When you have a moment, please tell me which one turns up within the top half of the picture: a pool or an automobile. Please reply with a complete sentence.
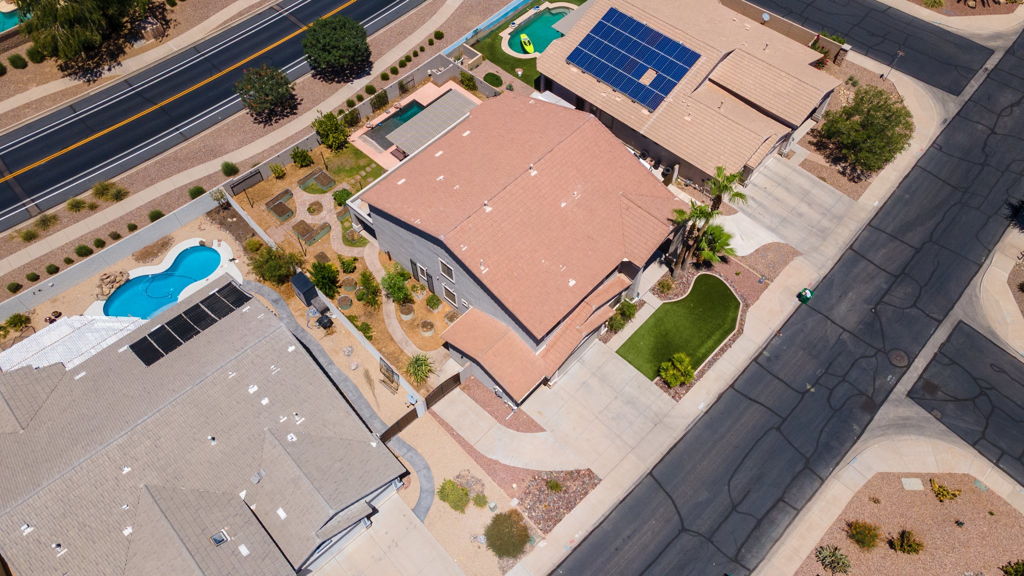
Visible within the top half of the picture is a pool.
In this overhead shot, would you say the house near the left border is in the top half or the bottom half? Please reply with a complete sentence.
It is in the bottom half that the house near the left border appears.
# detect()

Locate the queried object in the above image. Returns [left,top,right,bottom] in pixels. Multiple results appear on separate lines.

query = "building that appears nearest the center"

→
[345,91,692,427]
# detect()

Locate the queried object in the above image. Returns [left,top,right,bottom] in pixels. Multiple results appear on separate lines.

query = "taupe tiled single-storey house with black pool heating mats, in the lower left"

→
[0,269,406,576]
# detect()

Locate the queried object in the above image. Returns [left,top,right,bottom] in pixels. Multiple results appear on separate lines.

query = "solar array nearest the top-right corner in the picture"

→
[564,8,699,111]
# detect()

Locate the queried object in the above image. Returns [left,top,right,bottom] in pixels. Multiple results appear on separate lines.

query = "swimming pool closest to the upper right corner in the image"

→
[508,6,568,54]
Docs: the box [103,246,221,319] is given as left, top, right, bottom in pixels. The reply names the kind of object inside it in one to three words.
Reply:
swimming pool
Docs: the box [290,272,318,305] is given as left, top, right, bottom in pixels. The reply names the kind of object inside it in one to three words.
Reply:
shed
